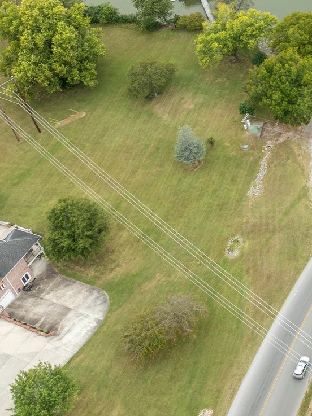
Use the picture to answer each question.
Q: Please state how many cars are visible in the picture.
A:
one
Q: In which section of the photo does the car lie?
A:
bottom right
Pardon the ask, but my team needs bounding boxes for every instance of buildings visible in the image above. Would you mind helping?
[0,216,52,331]
[244,121,263,138]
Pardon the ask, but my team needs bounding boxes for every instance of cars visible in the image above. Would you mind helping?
[287,354,307,381]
